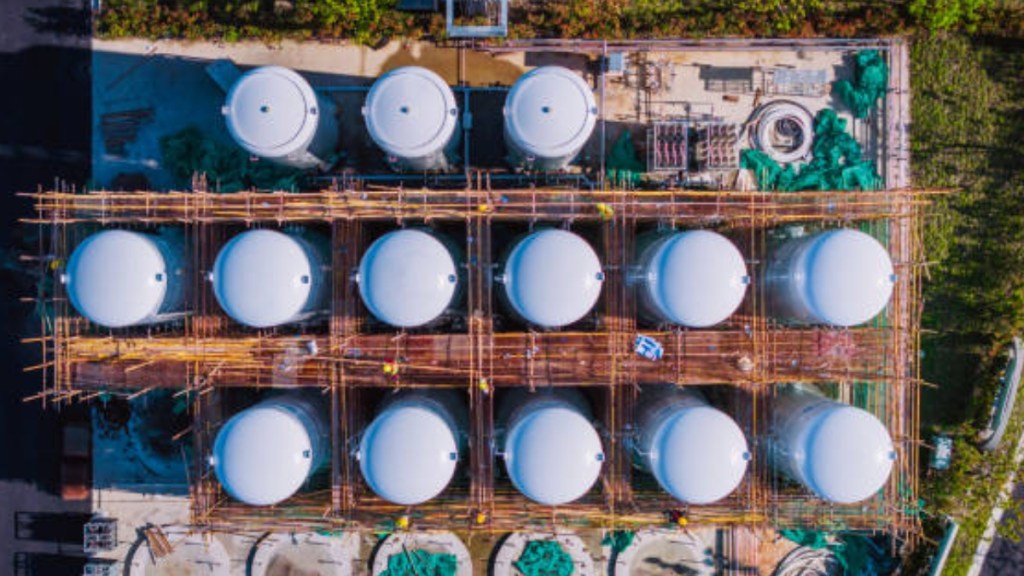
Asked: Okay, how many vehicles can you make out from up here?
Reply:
1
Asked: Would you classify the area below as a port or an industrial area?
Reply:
industrial area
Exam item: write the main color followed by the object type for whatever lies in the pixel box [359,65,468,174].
white storage tank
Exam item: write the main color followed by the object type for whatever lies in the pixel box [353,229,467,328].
white storage tank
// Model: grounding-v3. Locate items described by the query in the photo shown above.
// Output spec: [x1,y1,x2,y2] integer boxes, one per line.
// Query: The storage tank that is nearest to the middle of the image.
[493,229,602,328]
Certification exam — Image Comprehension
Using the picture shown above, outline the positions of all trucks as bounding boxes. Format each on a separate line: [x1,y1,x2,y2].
[59,428,89,503]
